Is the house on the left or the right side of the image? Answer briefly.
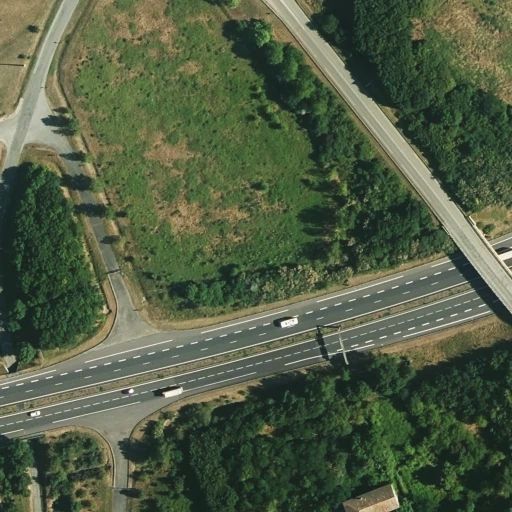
right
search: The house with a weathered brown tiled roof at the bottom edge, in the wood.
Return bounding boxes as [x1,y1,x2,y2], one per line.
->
[342,484,400,512]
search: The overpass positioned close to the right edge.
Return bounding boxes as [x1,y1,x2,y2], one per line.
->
[434,200,512,316]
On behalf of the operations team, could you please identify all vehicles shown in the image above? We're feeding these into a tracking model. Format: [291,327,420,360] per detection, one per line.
[498,250,512,260]
[124,389,133,394]
[280,318,297,327]
[30,410,42,416]
[162,386,183,398]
